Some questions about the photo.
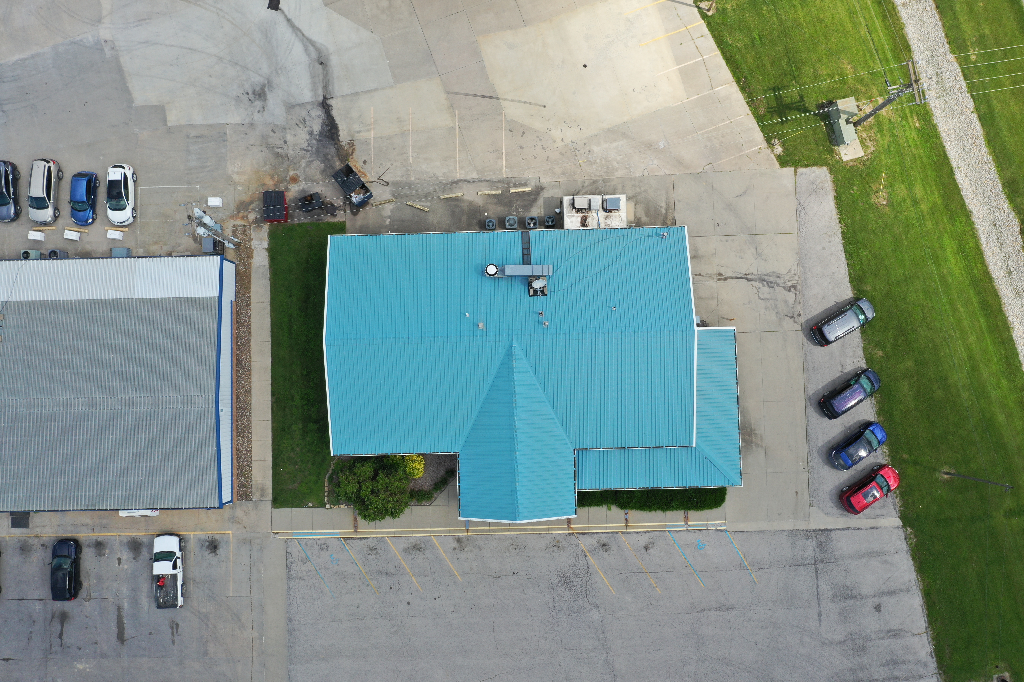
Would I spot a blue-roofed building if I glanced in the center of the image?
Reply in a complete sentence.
Yes, you'll find a blue-roofed building in the center of the image.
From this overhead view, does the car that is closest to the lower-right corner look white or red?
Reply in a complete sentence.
The car that is closest to the lower-right corner looks red in the image.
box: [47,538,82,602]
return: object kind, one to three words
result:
car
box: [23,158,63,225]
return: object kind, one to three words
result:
car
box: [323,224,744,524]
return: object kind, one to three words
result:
building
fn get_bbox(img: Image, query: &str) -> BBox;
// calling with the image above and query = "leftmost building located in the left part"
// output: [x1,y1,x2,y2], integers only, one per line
[0,255,238,513]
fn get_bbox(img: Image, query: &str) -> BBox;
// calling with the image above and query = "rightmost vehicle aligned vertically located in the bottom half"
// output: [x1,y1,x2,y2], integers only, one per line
[149,532,186,613]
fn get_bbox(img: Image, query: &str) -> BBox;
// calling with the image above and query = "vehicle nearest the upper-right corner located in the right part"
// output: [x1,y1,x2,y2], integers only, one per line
[810,299,874,348]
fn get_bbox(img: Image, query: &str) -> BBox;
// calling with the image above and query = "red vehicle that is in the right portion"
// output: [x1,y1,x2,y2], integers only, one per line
[837,467,899,517]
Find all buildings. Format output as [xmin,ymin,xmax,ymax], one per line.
[323,224,744,524]
[0,255,238,513]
